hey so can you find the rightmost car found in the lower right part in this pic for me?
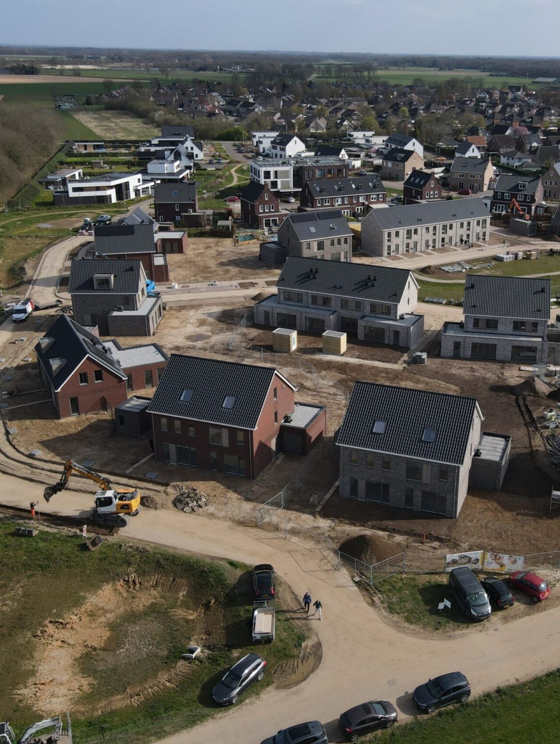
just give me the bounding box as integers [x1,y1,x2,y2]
[506,566,558,604]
